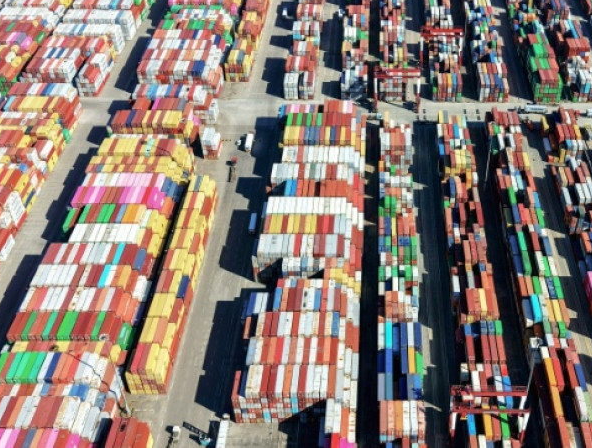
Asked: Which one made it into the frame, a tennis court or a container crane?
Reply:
container crane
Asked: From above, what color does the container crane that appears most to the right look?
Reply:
red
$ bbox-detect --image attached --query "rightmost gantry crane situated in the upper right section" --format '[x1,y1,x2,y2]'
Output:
[418,26,467,66]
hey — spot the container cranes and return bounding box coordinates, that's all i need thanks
[371,69,422,112]
[444,389,534,448]
[418,26,467,66]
